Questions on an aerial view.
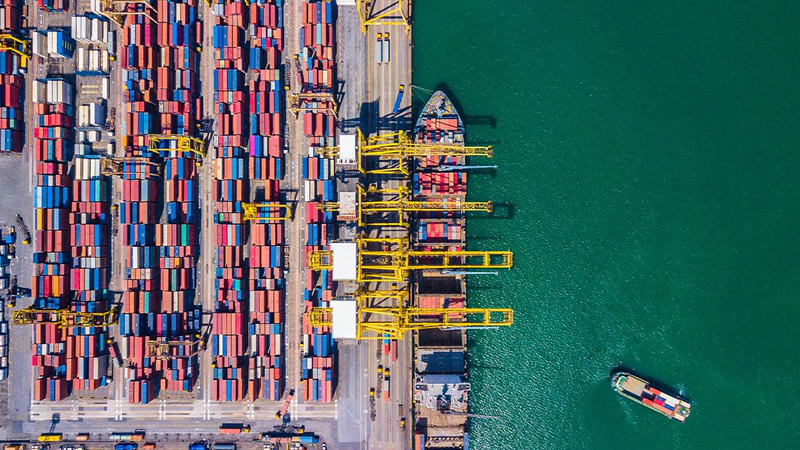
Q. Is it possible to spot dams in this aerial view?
No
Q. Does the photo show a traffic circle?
No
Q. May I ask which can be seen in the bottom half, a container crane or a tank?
container crane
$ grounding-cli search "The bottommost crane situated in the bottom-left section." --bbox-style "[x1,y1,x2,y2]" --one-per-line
[149,333,205,359]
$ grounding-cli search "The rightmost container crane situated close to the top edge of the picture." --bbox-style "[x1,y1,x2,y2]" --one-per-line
[337,0,409,37]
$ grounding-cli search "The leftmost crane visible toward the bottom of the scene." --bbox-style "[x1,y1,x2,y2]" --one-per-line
[10,302,71,328]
